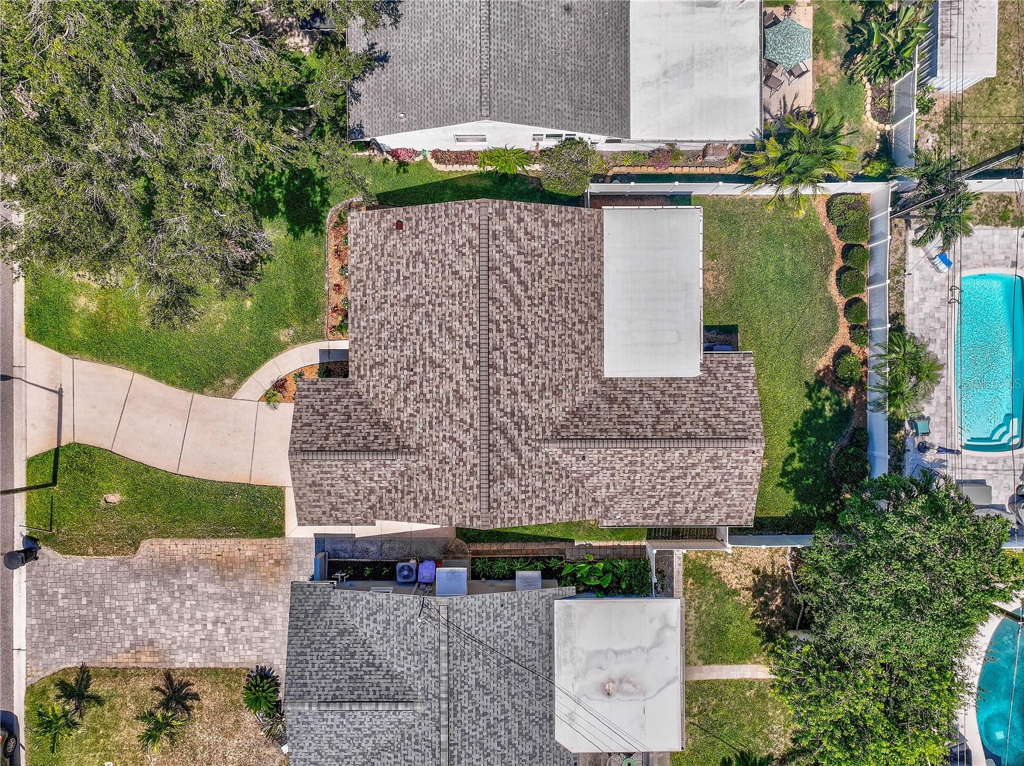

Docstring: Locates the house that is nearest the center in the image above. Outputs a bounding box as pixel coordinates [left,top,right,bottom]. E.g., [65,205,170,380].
[290,199,765,529]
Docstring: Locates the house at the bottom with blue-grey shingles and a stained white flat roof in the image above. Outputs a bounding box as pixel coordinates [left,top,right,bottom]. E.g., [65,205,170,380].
[285,566,685,766]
